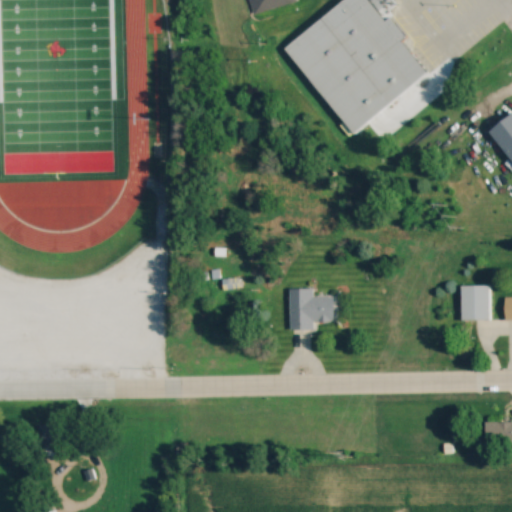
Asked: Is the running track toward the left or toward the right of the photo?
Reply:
left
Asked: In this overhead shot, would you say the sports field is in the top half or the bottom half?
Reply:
top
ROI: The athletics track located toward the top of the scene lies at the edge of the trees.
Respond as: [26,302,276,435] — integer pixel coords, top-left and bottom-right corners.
[0,0,150,252]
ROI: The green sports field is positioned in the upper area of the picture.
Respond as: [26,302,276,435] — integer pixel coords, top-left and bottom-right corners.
[0,0,128,183]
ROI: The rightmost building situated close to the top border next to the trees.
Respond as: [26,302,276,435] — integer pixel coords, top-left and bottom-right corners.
[284,0,430,136]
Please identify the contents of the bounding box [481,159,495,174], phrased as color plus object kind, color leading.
white camper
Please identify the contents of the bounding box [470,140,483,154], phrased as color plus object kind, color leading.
white vehicle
